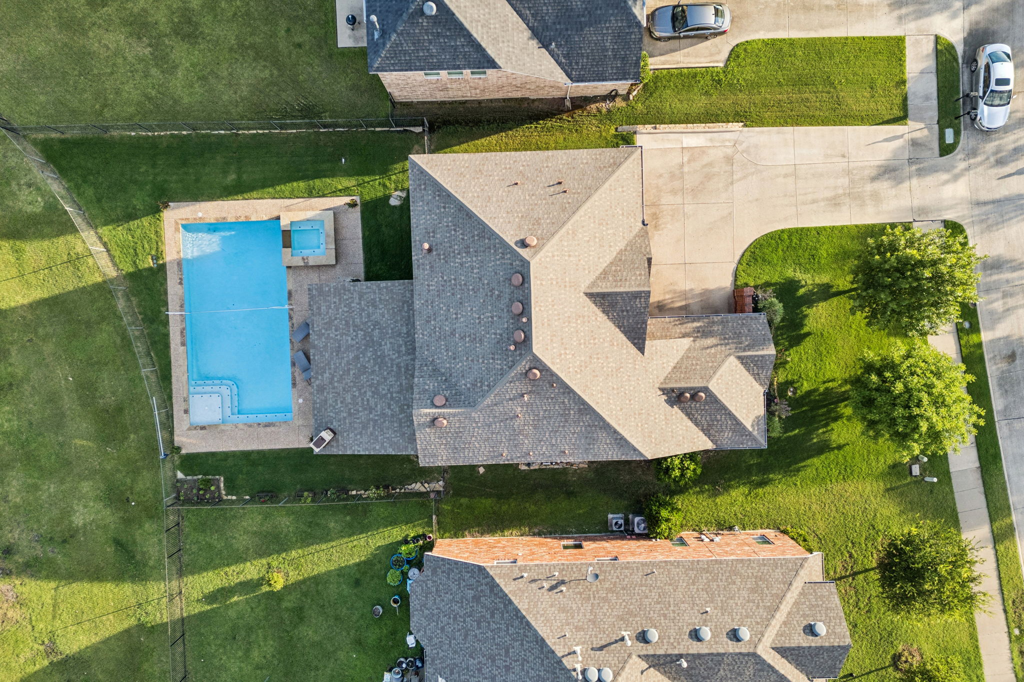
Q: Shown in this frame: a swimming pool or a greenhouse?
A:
swimming pool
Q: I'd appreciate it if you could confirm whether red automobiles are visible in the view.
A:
No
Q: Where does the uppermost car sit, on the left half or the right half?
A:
right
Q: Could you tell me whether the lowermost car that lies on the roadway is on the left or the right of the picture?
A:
right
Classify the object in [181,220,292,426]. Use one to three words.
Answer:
swimming pool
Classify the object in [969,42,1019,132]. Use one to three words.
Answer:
car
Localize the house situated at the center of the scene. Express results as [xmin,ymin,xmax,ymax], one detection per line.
[407,142,776,466]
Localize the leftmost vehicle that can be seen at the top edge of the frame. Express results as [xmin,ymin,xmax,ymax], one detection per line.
[647,0,734,45]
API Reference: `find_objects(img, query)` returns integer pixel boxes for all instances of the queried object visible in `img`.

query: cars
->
[647,0,734,45]
[969,42,1019,132]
